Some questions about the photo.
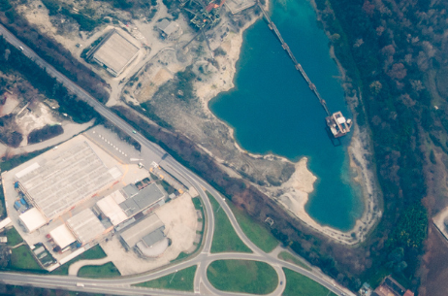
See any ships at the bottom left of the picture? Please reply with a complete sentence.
No, there's no ship to be seen at the bottom left of the picture.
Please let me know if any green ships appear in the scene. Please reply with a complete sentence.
No, I can't see a single green ship in this photo.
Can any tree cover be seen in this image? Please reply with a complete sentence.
Yes, tree cover shows up in the scene.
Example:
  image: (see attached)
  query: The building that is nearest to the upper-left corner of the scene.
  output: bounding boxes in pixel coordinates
[88,28,142,78]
